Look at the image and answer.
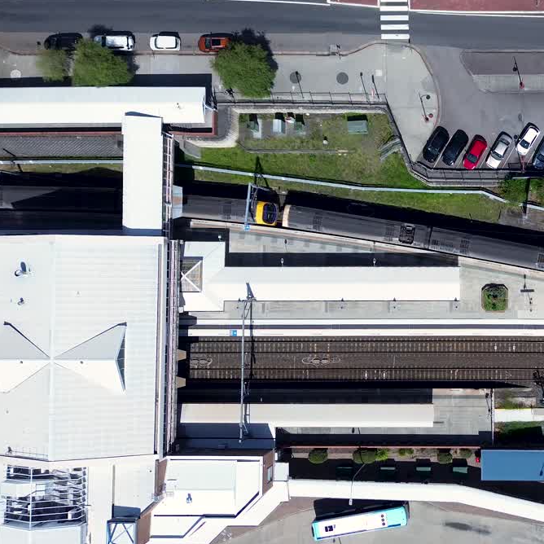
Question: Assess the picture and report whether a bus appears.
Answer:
Yes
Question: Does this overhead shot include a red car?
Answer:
Yes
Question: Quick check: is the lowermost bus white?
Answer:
Yes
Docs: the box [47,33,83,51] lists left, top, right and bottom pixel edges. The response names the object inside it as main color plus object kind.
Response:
black car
